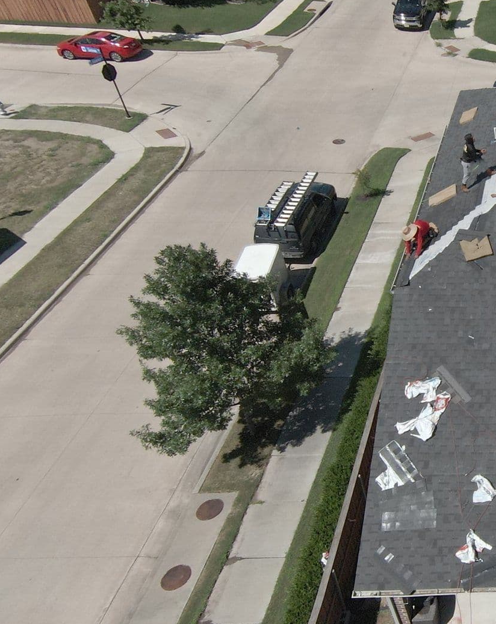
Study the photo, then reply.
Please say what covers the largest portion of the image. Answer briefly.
paved ground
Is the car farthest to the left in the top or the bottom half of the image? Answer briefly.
top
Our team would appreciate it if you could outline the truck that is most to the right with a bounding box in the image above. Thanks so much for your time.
[389,0,434,29]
